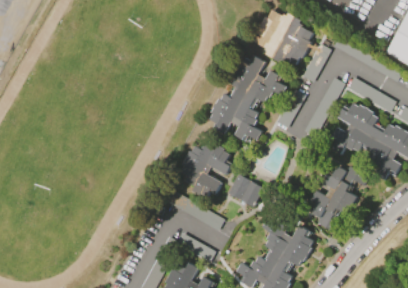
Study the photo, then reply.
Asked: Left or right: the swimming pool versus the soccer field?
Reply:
to the right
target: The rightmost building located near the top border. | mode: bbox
[388,14,408,63]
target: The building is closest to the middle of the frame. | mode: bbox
[190,144,231,197]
